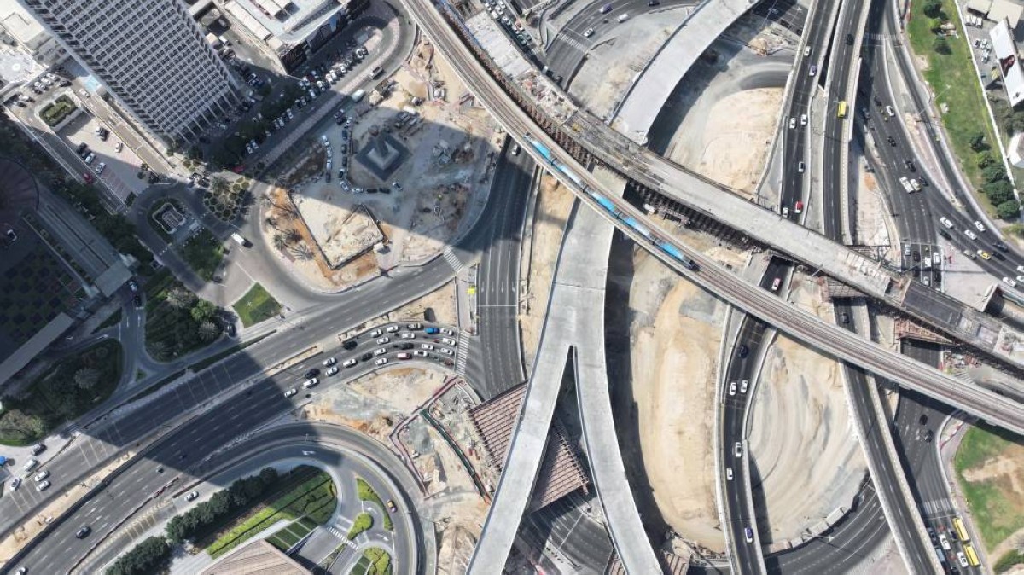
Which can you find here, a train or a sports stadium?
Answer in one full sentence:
Of the two, only a train appears.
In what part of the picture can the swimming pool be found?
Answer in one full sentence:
You can find the swimming pool in the top left area of the picture.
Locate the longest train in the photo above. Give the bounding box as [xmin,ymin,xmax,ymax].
[527,137,697,271]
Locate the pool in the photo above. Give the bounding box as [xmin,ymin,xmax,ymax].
[70,60,108,100]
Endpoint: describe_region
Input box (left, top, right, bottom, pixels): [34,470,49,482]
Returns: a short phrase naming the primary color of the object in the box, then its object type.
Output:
white vehicle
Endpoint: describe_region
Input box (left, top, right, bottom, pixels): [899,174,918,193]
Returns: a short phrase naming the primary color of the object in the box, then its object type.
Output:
white vehicle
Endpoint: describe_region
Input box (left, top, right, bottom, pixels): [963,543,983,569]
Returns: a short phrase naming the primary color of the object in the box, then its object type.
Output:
yellow bus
